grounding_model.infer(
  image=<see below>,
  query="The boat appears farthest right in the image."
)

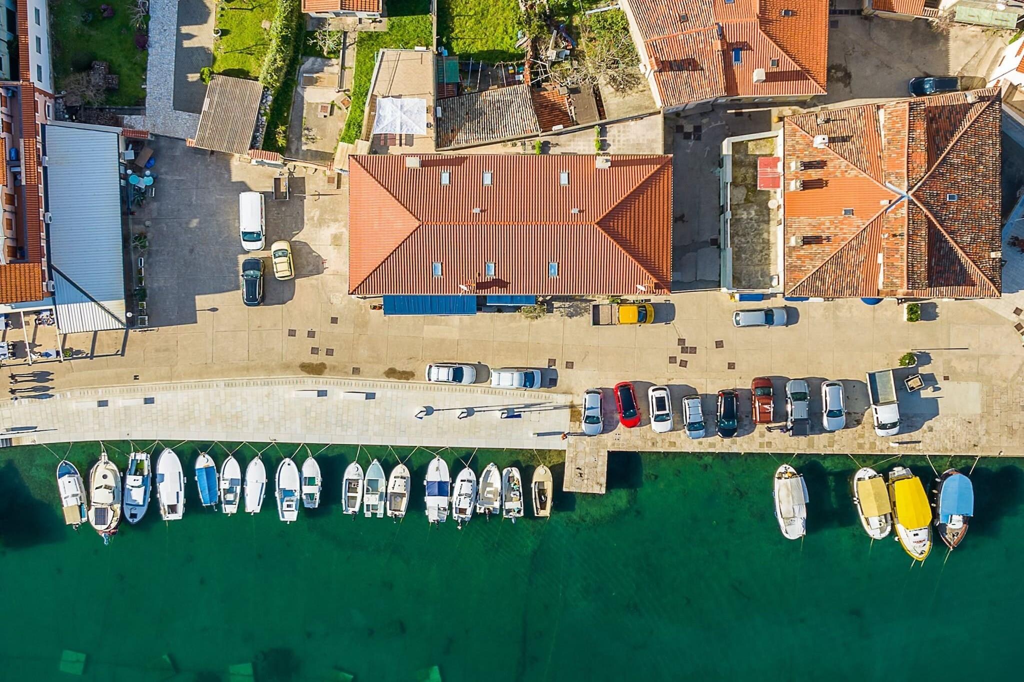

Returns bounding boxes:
[934,469,977,551]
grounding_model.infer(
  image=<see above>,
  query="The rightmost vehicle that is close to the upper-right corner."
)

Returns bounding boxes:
[907,72,961,97]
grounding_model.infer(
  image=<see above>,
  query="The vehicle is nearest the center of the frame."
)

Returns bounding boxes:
[491,367,541,391]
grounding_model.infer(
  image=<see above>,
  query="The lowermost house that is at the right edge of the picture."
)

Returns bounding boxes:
[773,86,1006,304]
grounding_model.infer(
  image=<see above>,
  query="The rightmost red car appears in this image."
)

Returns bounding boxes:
[749,376,776,425]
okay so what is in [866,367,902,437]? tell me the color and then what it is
white truck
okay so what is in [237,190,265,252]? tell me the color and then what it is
white van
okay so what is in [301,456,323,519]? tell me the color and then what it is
white boat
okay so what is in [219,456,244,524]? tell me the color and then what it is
white boat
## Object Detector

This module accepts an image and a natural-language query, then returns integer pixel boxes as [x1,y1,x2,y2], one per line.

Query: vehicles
[591,303,653,327]
[732,305,786,329]
[581,388,606,436]
[784,378,811,437]
[239,257,265,307]
[271,240,296,281]
[820,380,847,431]
[491,367,541,391]
[749,376,776,425]
[237,190,265,252]
[716,388,740,439]
[647,384,674,434]
[613,380,641,429]
[907,72,961,97]
[426,362,476,386]
[680,394,706,440]
[866,367,902,437]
